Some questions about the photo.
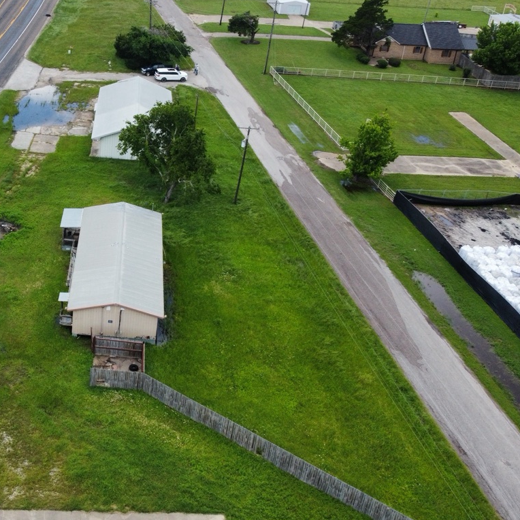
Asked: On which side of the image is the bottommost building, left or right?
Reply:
left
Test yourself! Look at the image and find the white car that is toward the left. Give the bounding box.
[154,65,189,81]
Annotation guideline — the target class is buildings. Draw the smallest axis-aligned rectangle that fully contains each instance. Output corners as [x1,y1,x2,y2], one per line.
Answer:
[489,12,520,35]
[89,78,178,160]
[269,0,312,15]
[365,23,486,64]
[57,202,166,342]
